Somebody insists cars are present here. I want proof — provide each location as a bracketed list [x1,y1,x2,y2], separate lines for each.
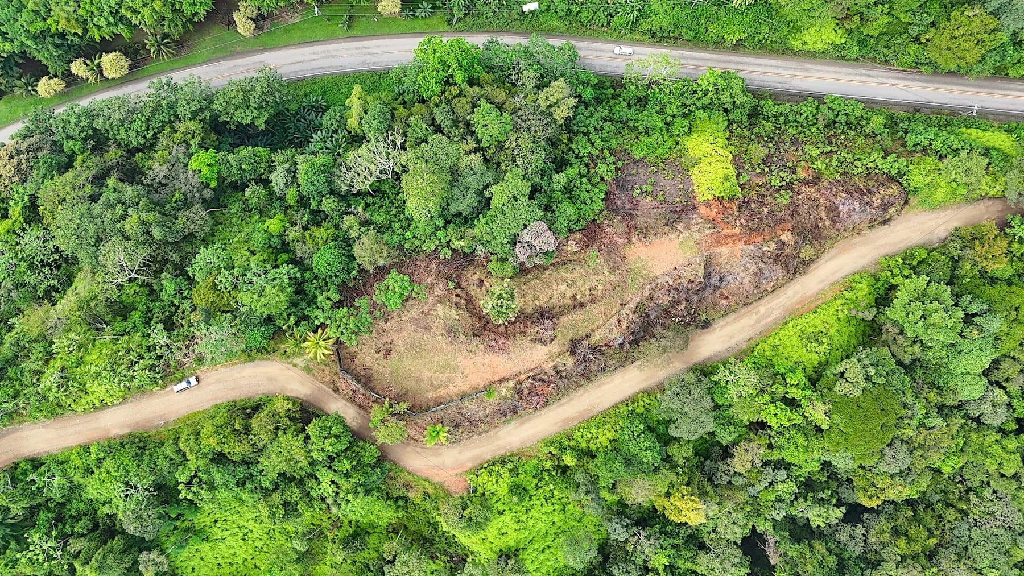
[174,375,201,393]
[613,45,635,57]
